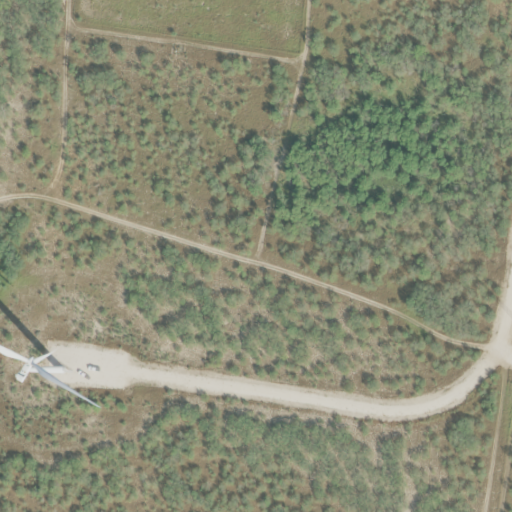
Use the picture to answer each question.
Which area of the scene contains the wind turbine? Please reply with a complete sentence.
The wind turbine sits in the bottom left section of the image.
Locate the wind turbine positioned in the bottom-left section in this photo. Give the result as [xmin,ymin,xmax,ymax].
[0,346,95,408]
